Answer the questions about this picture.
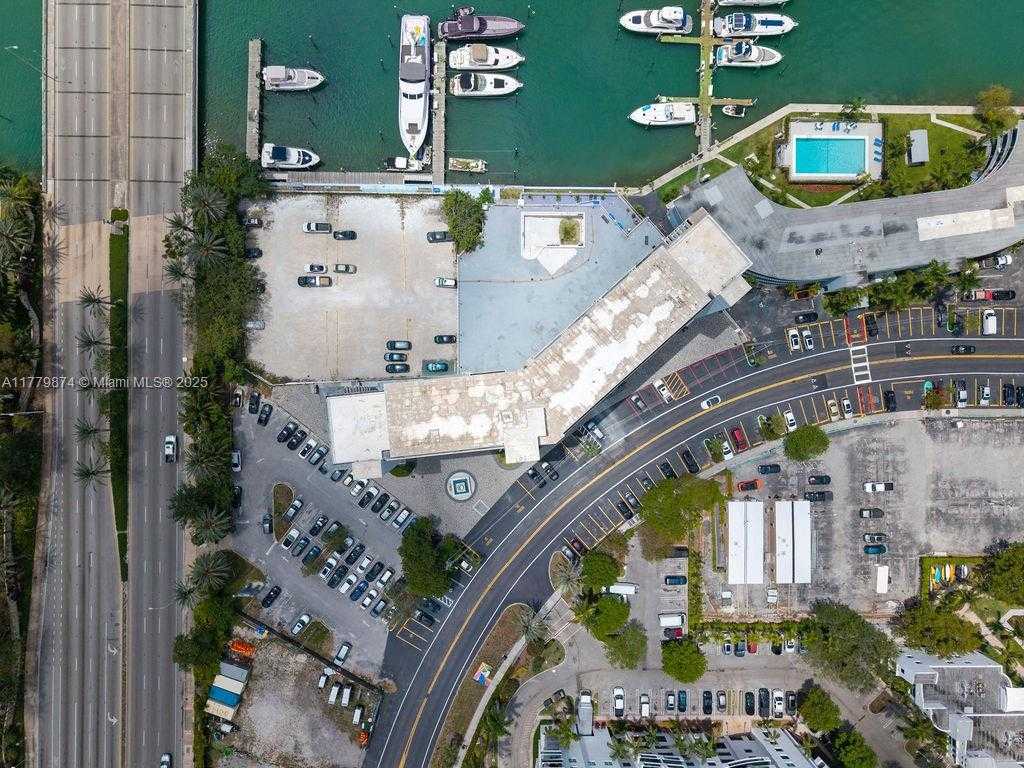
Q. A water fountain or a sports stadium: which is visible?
water fountain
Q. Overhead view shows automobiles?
Yes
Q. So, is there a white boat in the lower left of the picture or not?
No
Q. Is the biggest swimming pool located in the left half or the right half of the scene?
right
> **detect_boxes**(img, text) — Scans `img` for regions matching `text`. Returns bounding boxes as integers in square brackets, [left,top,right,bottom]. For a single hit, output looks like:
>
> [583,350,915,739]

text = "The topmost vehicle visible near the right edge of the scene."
[982,256,1013,269]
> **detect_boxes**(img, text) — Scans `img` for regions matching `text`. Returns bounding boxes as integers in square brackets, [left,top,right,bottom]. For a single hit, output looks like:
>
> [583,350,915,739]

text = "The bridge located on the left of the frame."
[41,0,200,180]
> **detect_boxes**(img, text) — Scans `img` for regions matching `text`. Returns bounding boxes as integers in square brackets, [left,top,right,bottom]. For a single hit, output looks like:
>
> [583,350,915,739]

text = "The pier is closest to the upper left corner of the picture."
[245,37,264,163]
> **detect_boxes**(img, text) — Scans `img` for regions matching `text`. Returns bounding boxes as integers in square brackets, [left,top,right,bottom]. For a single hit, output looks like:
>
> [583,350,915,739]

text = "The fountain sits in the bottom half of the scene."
[444,471,475,502]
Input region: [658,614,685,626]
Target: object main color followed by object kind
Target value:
white vehicle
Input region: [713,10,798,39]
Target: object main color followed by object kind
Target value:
white boat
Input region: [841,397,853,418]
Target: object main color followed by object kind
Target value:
white vehicle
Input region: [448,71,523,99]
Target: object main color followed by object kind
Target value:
white boat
